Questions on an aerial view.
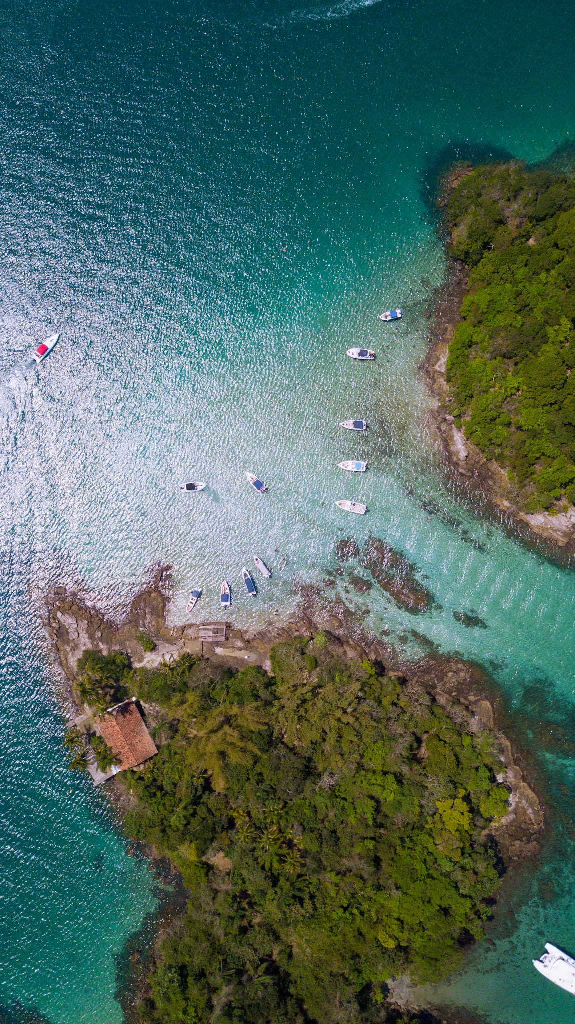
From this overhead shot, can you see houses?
Yes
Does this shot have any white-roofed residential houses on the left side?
No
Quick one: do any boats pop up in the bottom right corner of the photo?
Yes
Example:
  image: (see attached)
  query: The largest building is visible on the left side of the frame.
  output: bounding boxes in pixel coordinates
[95,694,158,770]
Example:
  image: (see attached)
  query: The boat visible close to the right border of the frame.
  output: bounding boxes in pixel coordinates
[533,938,575,1001]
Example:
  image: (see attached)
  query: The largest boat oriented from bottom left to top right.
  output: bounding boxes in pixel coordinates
[30,334,59,366]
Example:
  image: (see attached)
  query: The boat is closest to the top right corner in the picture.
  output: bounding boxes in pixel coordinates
[380,307,404,320]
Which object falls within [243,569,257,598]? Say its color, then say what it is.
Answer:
blue boat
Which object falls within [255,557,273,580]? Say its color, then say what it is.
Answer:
white boat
